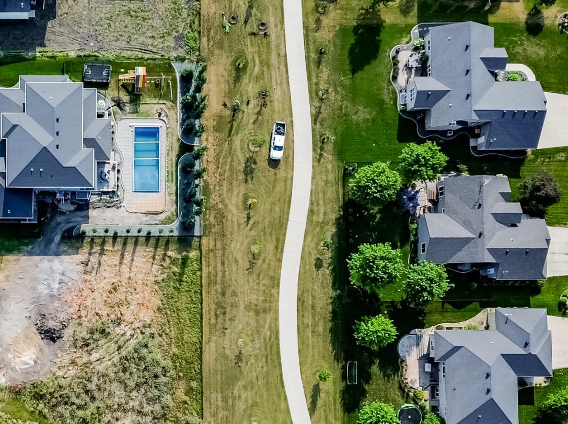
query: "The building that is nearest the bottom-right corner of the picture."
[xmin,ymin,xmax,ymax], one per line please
[423,307,553,424]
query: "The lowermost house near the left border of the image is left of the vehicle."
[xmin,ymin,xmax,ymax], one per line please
[0,75,113,218]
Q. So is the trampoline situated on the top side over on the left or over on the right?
left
